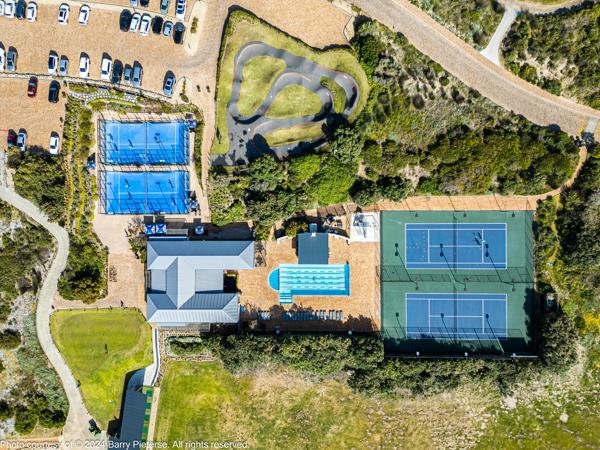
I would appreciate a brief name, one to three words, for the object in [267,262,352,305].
swimming pool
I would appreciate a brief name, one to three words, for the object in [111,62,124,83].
vehicle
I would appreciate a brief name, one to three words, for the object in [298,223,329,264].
building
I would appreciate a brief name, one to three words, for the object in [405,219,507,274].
tennis court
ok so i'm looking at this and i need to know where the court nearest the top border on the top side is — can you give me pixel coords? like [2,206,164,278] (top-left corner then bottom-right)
[99,118,189,165]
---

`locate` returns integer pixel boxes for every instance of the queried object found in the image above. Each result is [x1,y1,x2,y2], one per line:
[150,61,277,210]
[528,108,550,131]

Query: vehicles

[58,59,69,77]
[79,58,90,79]
[59,5,71,25]
[6,52,18,72]
[15,0,28,21]
[122,66,134,84]
[120,11,132,32]
[111,62,124,83]
[6,131,18,149]
[131,14,142,32]
[131,67,142,87]
[27,2,39,22]
[163,20,173,38]
[0,49,8,70]
[139,0,149,9]
[101,59,112,80]
[141,13,152,36]
[48,134,60,154]
[16,131,28,151]
[4,0,16,21]
[47,56,59,75]
[49,82,61,103]
[79,5,90,26]
[28,79,39,97]
[129,0,138,10]
[154,17,163,35]
[159,0,171,15]
[163,75,175,96]
[173,22,184,45]
[89,427,100,439]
